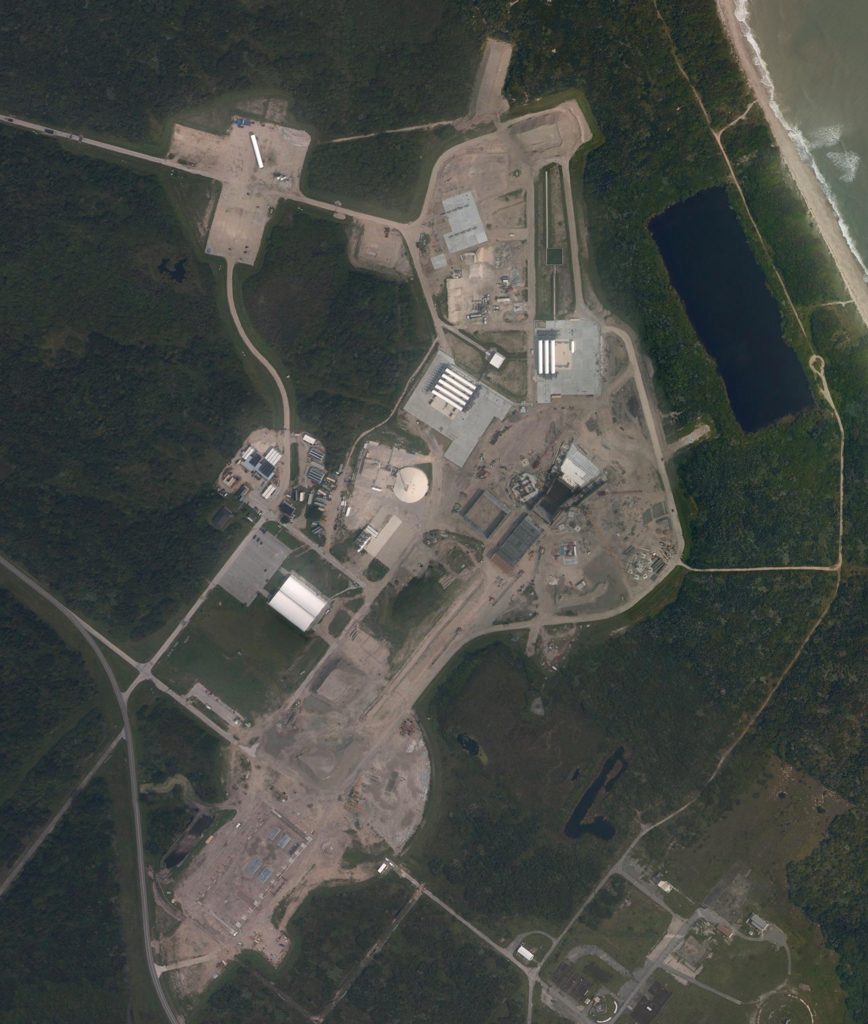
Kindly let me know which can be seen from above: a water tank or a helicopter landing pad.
water tank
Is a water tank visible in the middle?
Yes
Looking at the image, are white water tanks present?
Yes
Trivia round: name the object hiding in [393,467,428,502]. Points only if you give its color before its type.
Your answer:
white water tank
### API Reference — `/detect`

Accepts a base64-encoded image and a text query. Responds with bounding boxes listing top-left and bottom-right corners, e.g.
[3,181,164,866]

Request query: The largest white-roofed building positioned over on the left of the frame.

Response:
[269,575,327,632]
